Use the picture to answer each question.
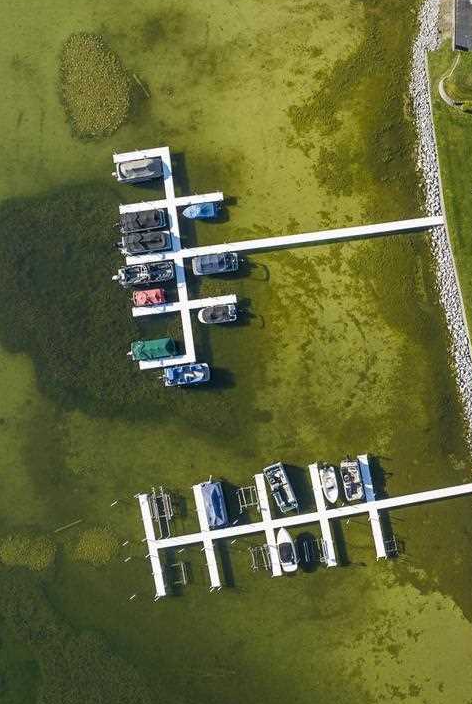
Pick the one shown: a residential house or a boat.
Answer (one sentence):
Visible in the photo is a boat.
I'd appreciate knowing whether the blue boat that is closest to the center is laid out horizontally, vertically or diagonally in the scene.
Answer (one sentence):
The blue boat that is closest to the center has been laid out horizontally relative to the frame.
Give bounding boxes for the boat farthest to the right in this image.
[340,458,365,502]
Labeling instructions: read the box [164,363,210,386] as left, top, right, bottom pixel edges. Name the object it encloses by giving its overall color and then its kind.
blue boat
